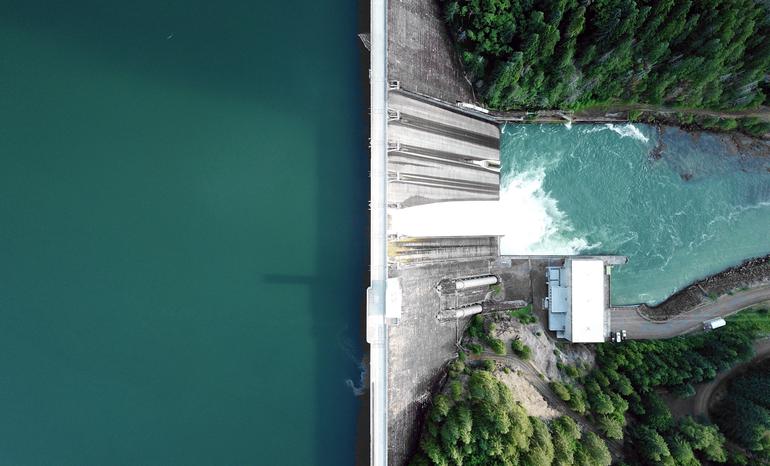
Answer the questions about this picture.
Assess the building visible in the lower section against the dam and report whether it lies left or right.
right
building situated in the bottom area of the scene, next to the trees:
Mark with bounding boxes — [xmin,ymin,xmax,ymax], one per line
[544,259,613,343]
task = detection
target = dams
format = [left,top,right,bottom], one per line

[358,0,528,466]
